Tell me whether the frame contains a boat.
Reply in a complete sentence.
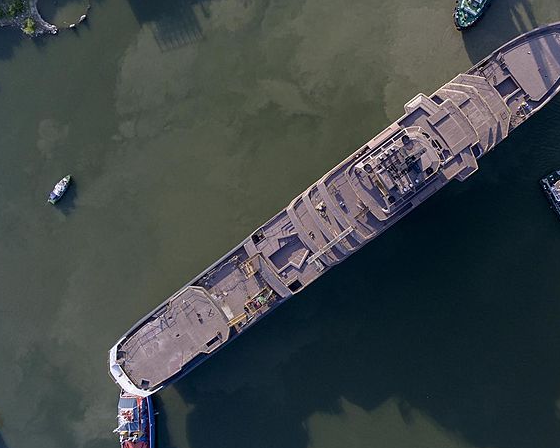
Yes, there is a boat in the image.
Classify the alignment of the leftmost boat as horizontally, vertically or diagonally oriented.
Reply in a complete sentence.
The leftmost boat is oriented diagonally.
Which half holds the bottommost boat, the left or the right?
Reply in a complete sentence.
You can find the bottommost boat on the left side of the picture.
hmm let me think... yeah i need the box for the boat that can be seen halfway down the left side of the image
[47,175,72,204]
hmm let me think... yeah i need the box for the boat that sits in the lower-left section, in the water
[113,389,158,448]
